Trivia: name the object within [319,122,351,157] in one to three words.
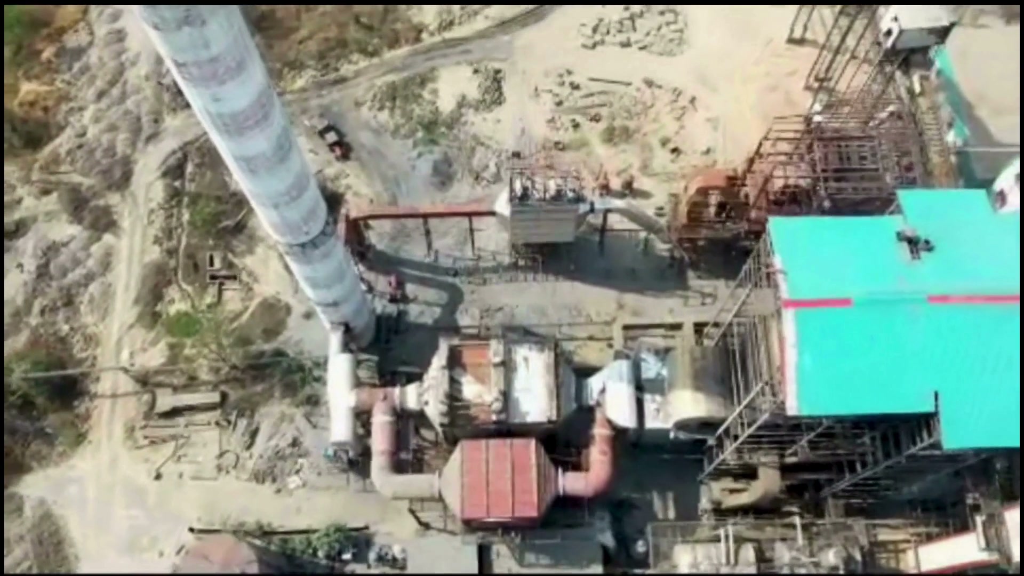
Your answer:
work vehicle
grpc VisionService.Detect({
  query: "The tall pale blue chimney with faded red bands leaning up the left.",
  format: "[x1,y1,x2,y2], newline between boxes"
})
[125,0,379,357]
